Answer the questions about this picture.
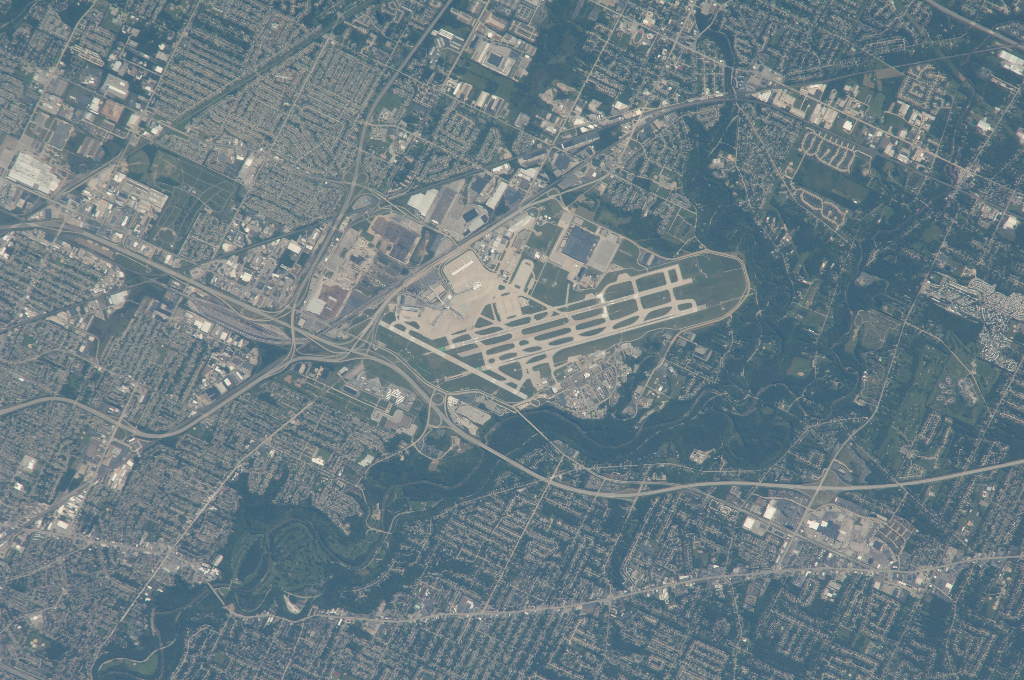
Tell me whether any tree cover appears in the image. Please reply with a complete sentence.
Yes, tree cover can be seen from above here.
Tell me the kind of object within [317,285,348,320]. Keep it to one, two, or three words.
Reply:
building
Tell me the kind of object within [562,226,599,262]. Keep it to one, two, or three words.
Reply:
building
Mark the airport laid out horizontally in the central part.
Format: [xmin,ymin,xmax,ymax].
[377,227,754,395]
